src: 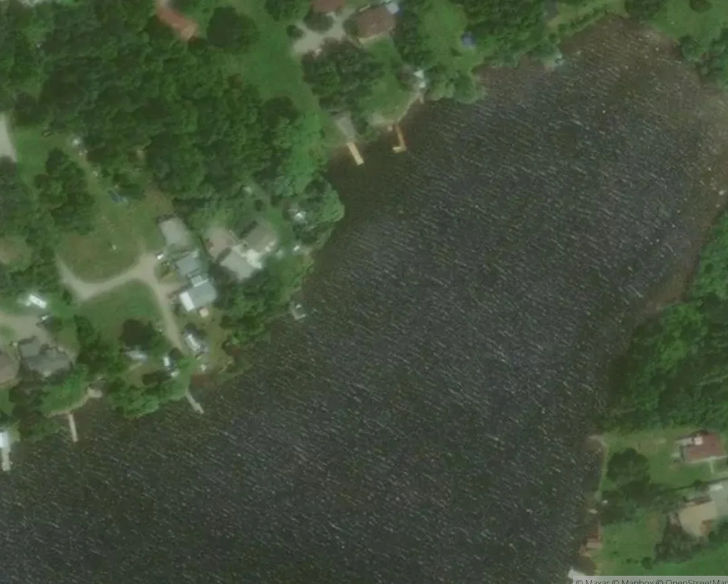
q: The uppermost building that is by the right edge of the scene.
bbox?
[674,432,728,464]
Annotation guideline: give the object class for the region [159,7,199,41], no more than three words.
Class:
house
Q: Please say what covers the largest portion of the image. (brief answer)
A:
water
